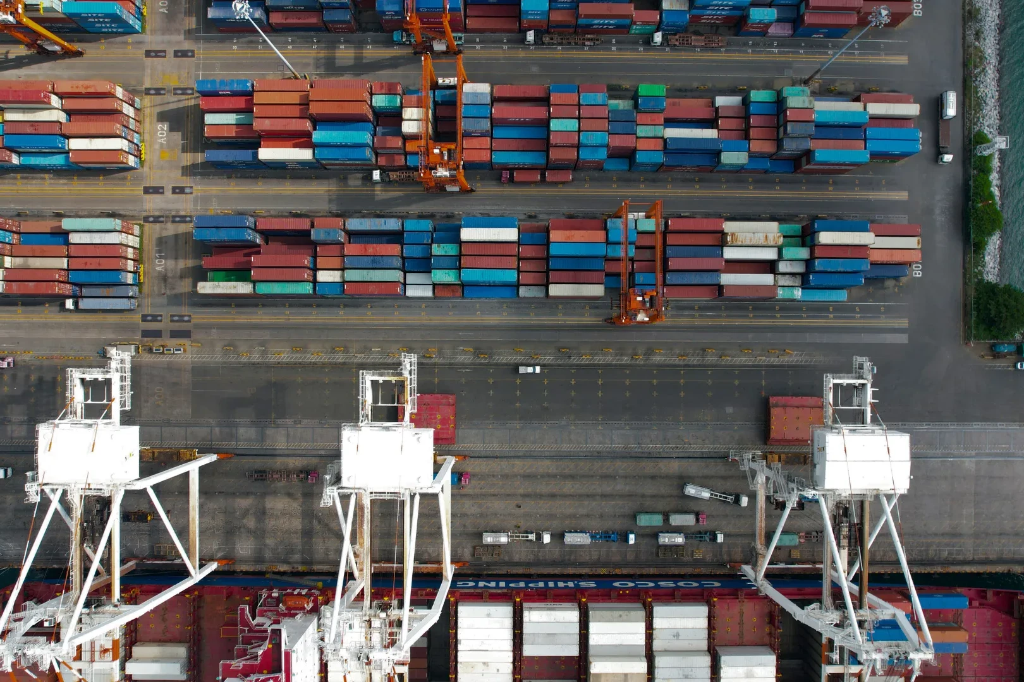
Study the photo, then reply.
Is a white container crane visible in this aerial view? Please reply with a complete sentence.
Yes, this view includes a white container crane.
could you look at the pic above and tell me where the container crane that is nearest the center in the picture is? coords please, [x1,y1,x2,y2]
[597,199,668,330]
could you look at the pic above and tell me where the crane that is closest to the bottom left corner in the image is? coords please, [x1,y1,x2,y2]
[0,346,233,682]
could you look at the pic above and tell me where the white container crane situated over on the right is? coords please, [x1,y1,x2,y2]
[725,351,945,682]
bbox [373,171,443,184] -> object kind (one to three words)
vehicle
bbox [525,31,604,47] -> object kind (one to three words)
vehicle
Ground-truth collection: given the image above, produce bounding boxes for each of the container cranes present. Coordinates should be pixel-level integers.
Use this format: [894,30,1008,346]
[418,50,483,192]
[725,351,945,682]
[312,348,472,682]
[597,199,668,330]
[0,0,93,52]
[0,346,233,682]
[406,0,471,54]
